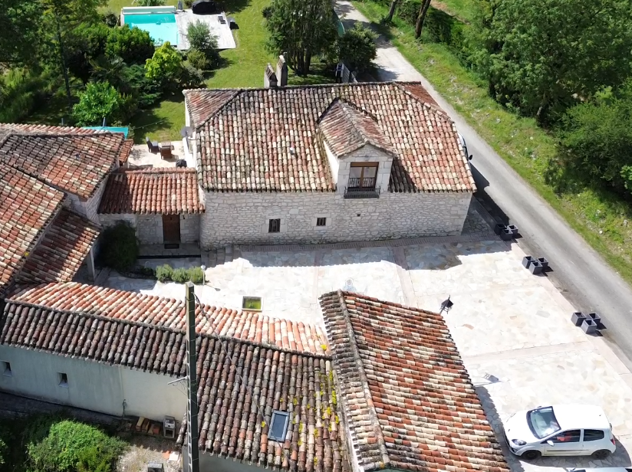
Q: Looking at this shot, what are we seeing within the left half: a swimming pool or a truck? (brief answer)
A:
swimming pool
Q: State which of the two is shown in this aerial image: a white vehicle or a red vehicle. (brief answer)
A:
white vehicle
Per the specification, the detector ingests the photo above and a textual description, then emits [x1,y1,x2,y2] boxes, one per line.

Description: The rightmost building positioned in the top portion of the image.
[181,51,474,243]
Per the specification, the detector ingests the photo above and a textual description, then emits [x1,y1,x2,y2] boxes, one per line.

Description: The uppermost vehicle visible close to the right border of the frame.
[502,399,622,460]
